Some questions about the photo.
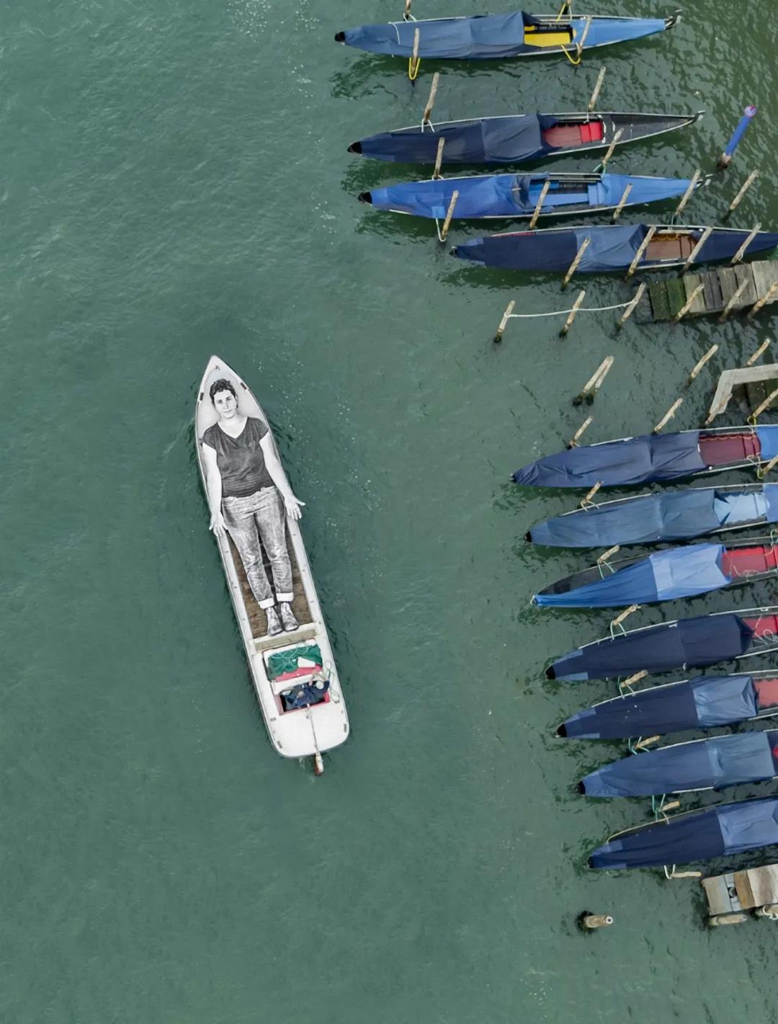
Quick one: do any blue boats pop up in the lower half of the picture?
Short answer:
Yes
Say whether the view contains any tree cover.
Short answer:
No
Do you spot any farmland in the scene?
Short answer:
No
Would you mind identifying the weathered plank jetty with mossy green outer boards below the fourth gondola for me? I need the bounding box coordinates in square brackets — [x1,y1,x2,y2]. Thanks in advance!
[638,260,778,322]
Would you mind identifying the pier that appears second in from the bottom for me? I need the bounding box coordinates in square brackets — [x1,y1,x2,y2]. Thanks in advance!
[735,379,778,412]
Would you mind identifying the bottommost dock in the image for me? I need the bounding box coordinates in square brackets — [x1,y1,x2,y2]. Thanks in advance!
[702,862,778,915]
